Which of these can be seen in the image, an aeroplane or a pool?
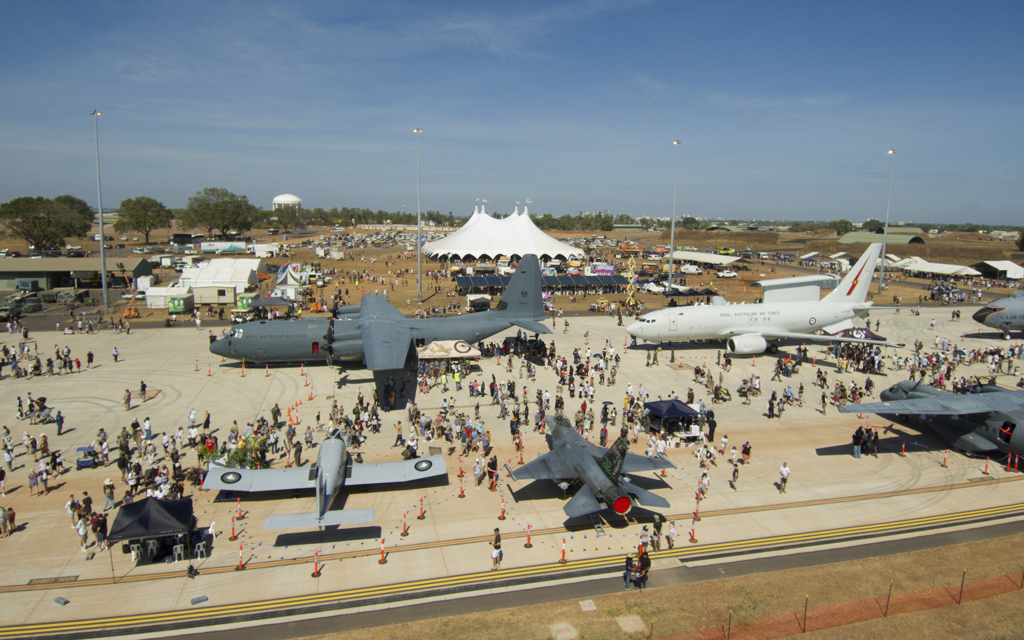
aeroplane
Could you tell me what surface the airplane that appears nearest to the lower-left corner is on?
apron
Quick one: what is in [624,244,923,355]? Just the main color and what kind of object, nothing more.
white airplane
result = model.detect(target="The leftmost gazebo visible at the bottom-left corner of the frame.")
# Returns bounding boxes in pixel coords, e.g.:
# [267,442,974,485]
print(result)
[108,497,201,585]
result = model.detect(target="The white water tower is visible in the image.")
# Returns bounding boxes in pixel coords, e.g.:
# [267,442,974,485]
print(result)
[271,194,301,212]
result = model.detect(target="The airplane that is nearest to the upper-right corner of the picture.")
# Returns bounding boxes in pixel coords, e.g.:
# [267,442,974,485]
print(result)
[971,286,1024,339]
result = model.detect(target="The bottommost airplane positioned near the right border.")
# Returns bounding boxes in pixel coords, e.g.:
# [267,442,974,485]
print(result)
[825,363,1024,459]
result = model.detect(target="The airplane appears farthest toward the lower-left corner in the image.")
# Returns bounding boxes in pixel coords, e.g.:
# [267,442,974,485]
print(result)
[201,412,446,530]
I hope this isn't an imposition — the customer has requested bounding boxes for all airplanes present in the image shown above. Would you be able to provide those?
[503,410,679,526]
[201,412,446,530]
[210,255,562,377]
[971,286,1024,339]
[825,363,1024,459]
[624,244,923,355]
